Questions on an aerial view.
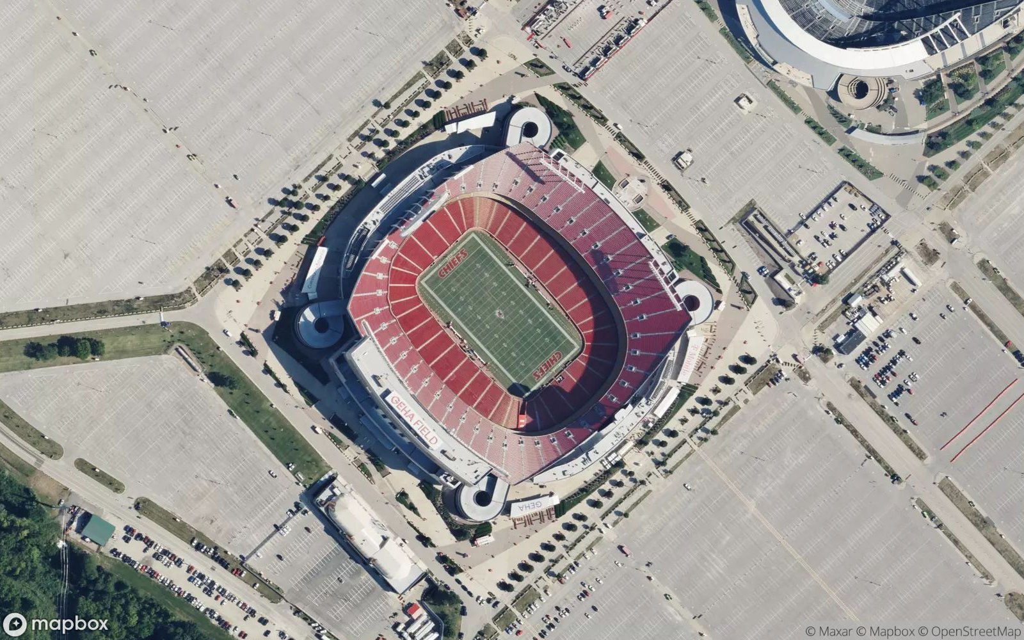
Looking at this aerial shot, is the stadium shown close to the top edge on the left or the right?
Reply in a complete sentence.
It is on the right.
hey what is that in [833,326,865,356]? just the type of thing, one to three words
building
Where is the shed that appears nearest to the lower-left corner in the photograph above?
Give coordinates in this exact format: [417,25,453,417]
[78,513,114,549]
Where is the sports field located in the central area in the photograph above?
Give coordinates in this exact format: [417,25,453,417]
[415,227,584,397]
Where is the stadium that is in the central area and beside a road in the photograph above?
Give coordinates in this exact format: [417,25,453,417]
[317,140,692,490]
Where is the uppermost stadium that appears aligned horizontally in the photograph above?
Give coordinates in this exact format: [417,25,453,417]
[728,0,1024,91]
